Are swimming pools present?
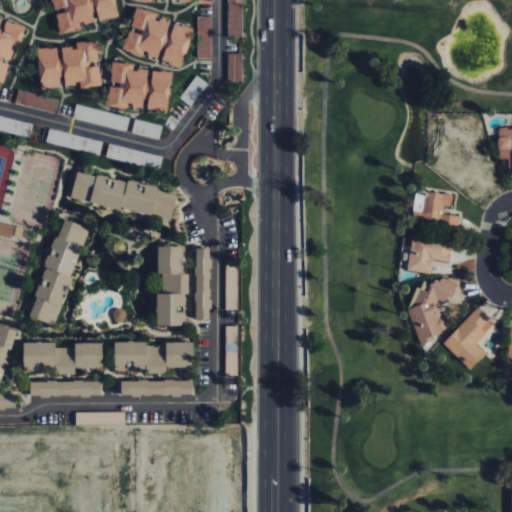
Yes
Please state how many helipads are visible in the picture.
none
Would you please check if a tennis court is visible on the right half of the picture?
No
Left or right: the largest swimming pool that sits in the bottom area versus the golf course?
to its left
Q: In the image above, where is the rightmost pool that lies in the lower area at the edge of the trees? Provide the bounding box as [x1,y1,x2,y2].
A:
[480,330,497,359]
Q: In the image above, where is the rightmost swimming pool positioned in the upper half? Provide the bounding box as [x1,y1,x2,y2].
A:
[482,112,512,136]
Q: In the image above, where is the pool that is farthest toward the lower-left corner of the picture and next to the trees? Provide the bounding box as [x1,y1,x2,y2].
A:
[76,290,123,332]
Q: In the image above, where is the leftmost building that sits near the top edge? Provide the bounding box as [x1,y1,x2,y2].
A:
[0,18,28,86]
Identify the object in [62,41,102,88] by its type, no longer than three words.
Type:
building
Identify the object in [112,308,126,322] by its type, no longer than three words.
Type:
gazebo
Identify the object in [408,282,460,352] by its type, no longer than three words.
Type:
house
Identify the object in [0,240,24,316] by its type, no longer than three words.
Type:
tennis court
